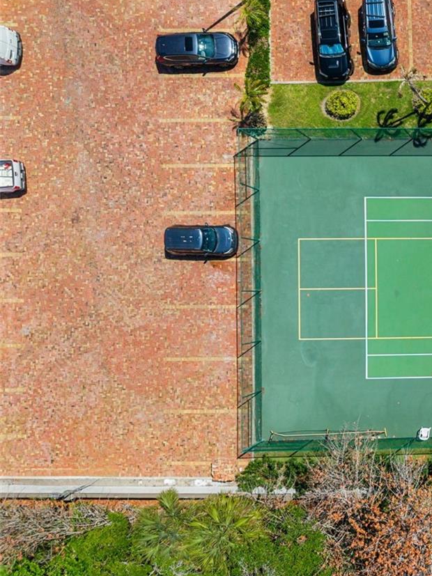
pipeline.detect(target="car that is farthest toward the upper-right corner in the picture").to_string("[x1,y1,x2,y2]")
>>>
[359,0,398,70]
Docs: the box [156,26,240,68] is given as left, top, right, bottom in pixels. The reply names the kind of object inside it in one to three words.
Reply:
car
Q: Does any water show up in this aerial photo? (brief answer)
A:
No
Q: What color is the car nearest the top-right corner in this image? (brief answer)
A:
blue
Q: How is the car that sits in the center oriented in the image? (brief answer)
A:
from side to side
